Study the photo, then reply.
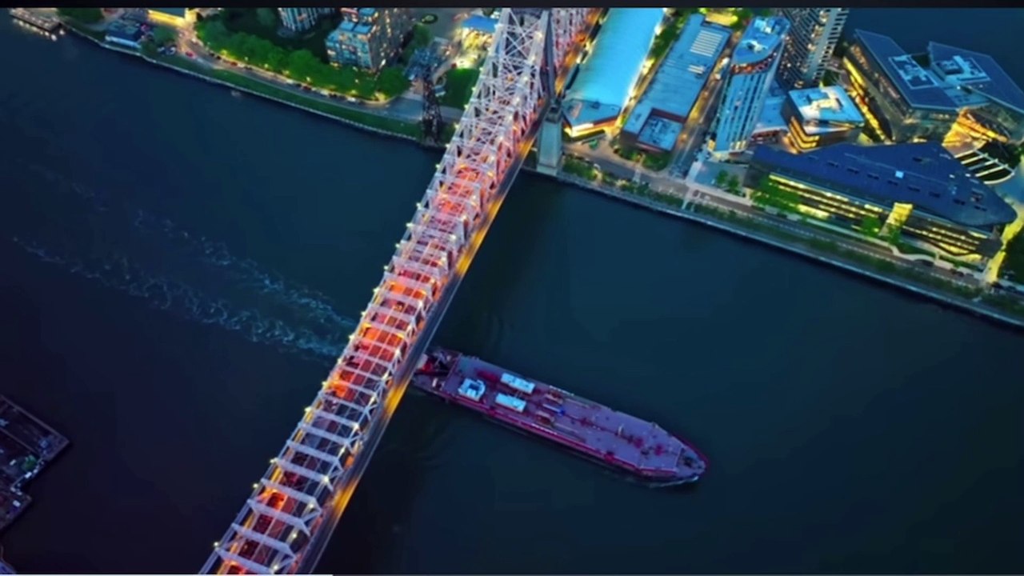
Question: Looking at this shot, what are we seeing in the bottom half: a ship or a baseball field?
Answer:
ship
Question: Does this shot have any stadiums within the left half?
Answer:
No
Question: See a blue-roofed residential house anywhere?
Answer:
Yes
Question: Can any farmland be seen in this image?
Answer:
No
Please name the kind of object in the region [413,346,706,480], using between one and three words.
ship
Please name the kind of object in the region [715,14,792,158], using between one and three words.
building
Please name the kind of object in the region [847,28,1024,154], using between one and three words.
building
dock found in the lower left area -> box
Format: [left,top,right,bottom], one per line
[0,393,71,533]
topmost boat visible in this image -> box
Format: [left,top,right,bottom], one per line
[416,346,452,380]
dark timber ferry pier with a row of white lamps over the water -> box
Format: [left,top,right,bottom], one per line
[9,7,63,38]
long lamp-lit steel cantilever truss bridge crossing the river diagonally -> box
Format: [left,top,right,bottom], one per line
[197,0,608,576]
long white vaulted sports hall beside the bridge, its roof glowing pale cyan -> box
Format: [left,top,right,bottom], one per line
[561,0,671,134]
